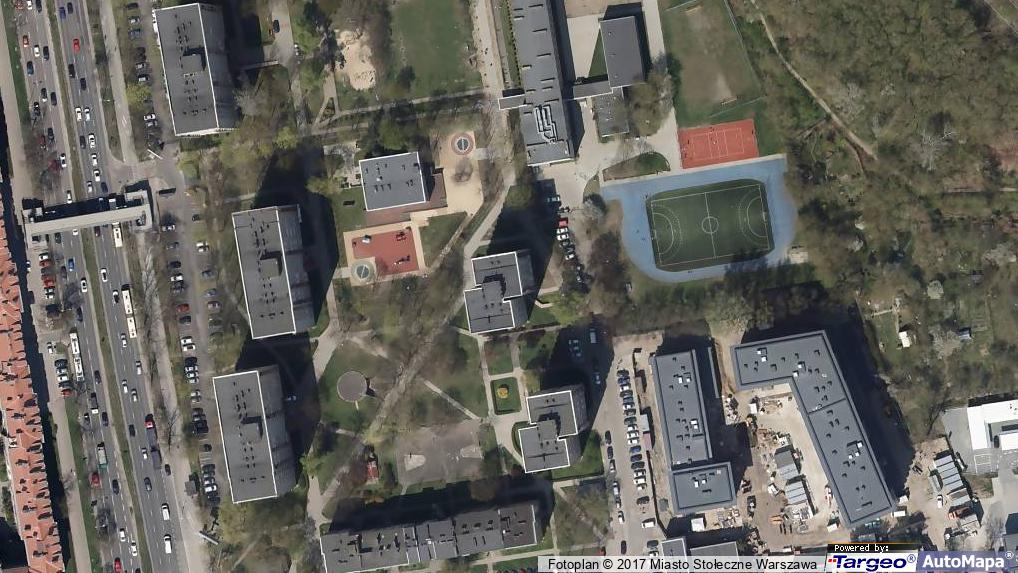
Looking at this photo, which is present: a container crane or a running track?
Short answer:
running track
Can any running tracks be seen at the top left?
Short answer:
No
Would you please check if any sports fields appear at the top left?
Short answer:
No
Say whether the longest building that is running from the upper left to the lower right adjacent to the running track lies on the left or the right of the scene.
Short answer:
right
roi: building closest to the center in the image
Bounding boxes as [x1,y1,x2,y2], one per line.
[464,249,536,333]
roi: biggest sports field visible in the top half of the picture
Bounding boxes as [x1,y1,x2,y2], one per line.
[646,178,775,272]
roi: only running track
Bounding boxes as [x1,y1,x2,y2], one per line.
[601,157,797,282]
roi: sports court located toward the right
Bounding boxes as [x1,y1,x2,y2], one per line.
[678,119,759,168]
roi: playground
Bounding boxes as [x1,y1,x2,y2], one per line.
[352,228,419,276]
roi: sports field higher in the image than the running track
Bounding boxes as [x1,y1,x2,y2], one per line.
[681,3,753,109]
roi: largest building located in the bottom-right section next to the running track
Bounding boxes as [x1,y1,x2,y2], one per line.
[732,327,897,525]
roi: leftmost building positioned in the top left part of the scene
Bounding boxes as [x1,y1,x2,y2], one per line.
[155,3,240,135]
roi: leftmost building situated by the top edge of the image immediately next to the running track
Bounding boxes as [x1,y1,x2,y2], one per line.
[509,0,577,165]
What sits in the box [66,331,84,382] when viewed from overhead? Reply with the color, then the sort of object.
white vehicle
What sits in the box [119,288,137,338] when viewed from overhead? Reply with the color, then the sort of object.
white vehicle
